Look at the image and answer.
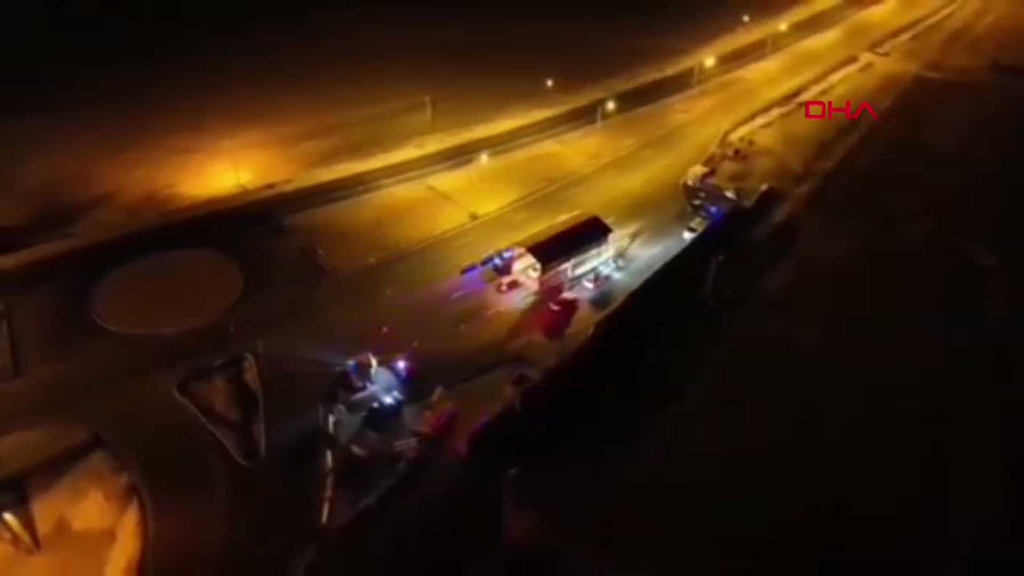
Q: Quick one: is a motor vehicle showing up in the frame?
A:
Yes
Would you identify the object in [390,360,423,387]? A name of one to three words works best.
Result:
car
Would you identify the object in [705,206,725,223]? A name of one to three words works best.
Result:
car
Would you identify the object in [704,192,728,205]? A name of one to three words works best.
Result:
vehicle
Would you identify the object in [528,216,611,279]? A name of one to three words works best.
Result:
trailer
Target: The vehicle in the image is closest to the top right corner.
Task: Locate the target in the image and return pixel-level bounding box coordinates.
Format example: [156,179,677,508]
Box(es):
[755,183,772,197]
